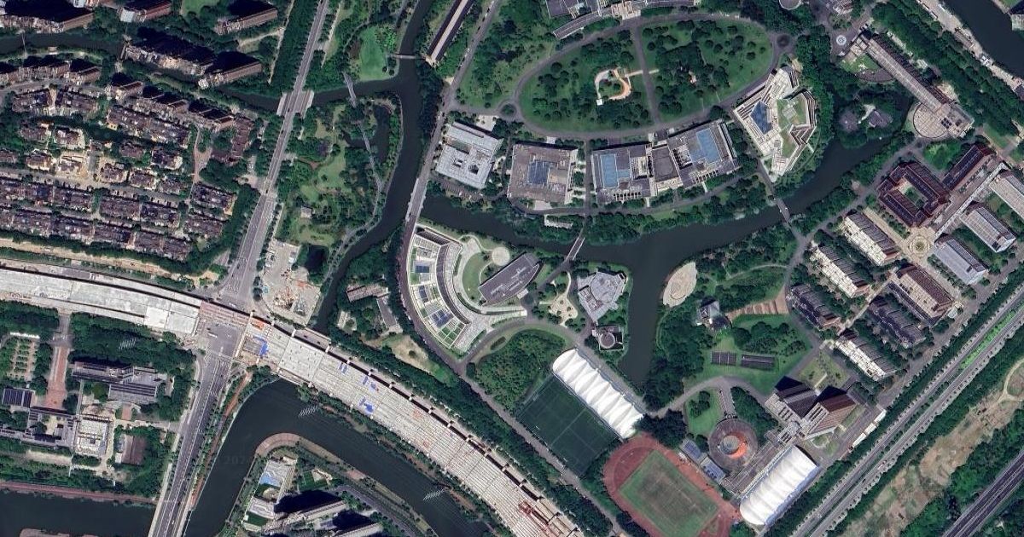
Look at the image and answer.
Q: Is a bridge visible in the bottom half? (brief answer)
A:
Yes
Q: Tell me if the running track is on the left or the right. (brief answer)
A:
right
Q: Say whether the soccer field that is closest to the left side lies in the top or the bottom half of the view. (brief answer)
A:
bottom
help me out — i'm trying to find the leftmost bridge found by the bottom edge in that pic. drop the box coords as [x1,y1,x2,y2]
[150,481,190,537]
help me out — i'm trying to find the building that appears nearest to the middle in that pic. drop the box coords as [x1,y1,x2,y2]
[479,252,543,306]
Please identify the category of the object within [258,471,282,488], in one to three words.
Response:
swimming pool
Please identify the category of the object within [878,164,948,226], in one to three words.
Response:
building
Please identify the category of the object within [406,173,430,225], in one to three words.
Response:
bridge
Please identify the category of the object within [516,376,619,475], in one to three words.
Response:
soccer field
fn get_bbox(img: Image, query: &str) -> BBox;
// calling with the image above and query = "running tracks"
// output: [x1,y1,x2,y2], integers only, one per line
[602,435,734,537]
